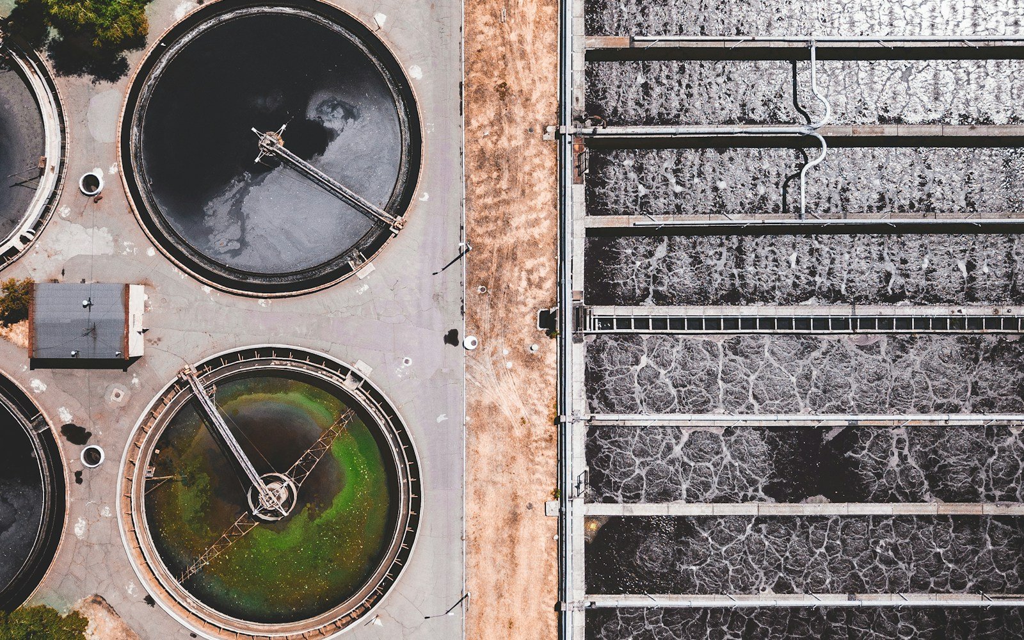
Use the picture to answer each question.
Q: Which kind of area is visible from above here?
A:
industrial area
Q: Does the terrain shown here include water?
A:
Yes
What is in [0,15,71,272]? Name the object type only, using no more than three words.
storage tank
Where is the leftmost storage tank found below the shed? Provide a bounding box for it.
[0,366,71,623]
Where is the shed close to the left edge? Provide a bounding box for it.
[24,282,150,360]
